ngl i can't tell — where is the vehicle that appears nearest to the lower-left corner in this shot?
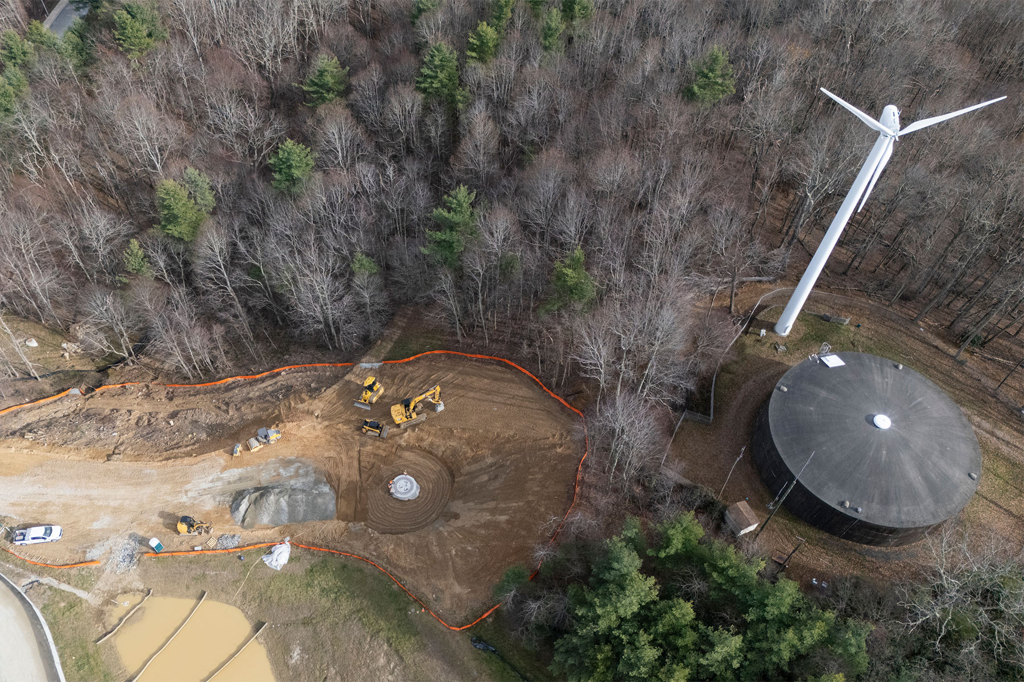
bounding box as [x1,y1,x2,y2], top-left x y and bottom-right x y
[14,524,63,543]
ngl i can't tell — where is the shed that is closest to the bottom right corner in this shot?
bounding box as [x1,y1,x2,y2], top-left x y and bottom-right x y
[726,495,763,534]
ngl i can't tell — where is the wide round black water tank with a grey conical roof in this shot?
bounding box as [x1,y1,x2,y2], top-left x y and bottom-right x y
[759,341,982,547]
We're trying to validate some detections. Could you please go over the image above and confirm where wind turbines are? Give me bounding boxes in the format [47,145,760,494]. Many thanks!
[774,88,1006,337]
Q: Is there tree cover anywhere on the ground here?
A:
Yes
